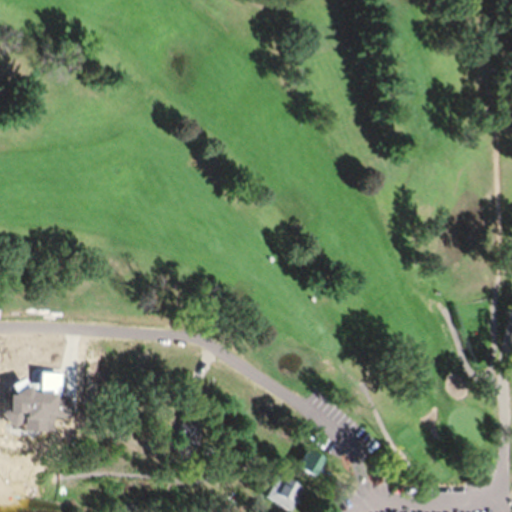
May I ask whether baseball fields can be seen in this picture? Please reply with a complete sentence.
No, the photo shows no baseball field.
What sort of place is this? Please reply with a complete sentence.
What you see here is a golf course.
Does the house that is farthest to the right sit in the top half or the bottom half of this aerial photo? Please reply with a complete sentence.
The house that is farthest to the right sits in the bottom half of the picture.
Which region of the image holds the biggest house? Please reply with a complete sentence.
Look in the bottom left portion of the view to spot the biggest house.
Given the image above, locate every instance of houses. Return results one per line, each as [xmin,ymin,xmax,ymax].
[268,478,303,511]
[4,372,70,432]
[305,452,326,479]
